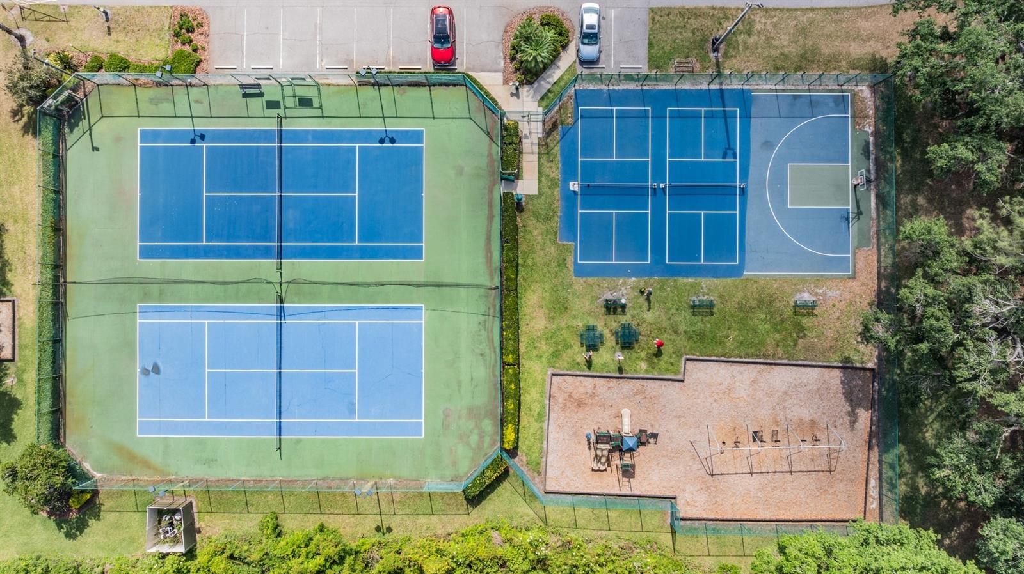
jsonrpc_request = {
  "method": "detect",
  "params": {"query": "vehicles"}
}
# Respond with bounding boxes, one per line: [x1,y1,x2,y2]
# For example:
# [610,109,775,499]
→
[428,5,457,67]
[576,1,603,63]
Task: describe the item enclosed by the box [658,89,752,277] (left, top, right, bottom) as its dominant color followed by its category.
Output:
blue sports court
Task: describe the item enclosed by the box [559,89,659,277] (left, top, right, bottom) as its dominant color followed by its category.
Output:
blue sports court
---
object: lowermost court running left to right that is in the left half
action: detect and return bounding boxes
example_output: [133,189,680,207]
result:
[66,282,500,479]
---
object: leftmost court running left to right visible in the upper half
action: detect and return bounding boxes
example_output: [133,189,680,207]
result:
[66,85,500,282]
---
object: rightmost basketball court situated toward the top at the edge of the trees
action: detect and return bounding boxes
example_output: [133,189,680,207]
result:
[743,88,871,277]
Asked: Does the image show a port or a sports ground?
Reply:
sports ground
